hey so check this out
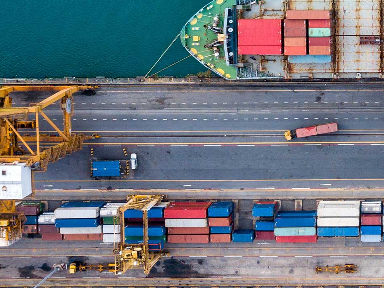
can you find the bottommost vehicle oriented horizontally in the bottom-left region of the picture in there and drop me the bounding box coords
[66,264,120,277]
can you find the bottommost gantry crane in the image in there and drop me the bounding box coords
[111,192,171,279]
